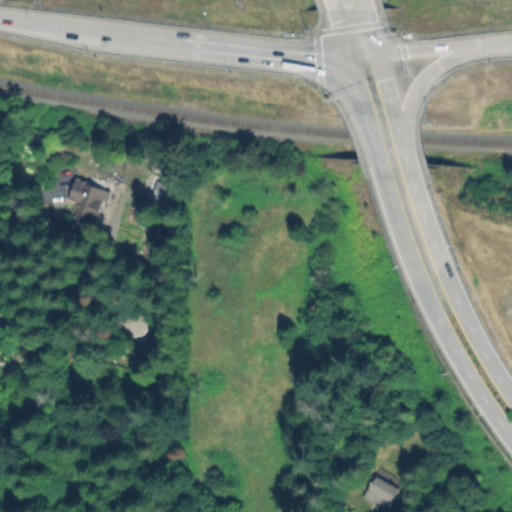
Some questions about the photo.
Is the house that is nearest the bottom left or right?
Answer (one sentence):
It is on the right.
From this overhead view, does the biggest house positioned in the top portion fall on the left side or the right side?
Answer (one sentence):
You can find the biggest house positioned in the top portion on the left side of the picture.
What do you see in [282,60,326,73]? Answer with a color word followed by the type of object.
white vehicle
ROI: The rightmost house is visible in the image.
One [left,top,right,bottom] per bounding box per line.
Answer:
[364,468,402,507]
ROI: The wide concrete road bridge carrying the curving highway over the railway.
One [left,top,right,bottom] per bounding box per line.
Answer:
[316,118,479,169]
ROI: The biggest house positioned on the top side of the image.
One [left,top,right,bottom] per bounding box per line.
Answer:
[66,178,110,218]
